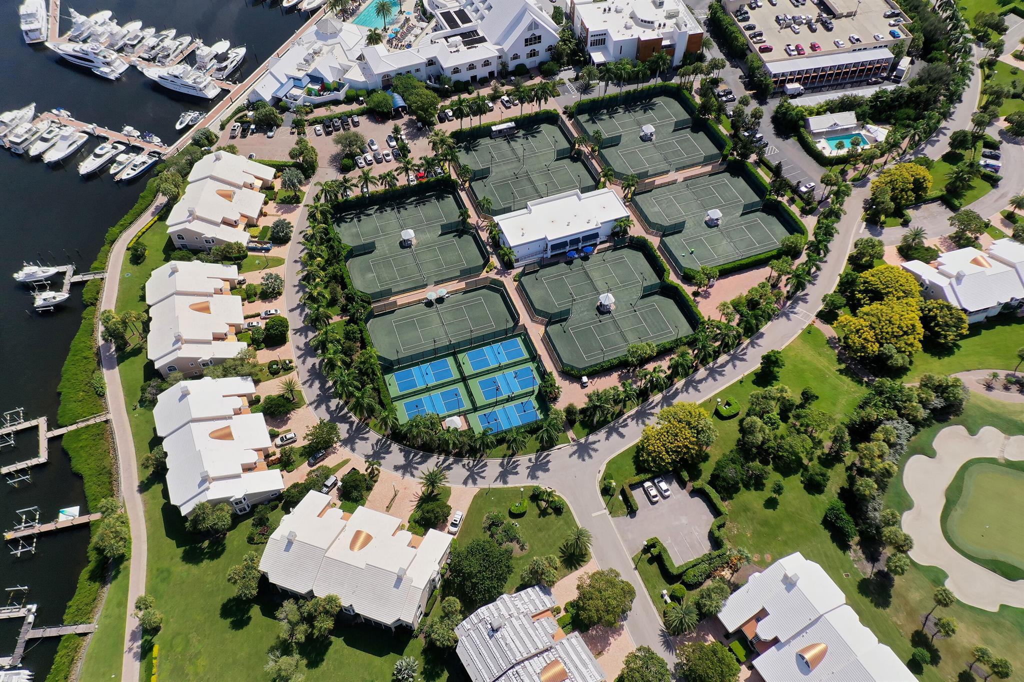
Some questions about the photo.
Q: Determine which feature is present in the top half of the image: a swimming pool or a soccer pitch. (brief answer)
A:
swimming pool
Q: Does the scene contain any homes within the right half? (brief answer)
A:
Yes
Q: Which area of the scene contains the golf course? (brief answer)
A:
bottom right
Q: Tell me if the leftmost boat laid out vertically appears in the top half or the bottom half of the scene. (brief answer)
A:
top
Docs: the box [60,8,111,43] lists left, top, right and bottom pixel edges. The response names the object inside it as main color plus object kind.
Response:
white boat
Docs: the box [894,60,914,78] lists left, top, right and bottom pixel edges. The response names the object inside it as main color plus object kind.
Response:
white vehicle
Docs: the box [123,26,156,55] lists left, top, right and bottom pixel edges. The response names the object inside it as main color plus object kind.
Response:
white boat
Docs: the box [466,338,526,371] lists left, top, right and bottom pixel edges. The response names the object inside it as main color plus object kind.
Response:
blue sports court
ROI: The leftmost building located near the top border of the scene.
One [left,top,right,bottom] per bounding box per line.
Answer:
[258,14,378,105]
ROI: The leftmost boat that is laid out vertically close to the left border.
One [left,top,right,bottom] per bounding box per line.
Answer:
[22,0,46,47]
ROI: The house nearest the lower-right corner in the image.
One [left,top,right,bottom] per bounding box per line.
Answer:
[715,552,920,682]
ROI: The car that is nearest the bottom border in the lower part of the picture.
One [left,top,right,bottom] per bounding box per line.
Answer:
[448,510,464,534]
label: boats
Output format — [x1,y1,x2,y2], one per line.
[138,29,177,62]
[118,126,140,137]
[60,8,111,43]
[0,667,37,682]
[136,63,225,104]
[105,19,143,53]
[47,107,71,117]
[10,266,60,284]
[77,143,134,178]
[93,66,123,82]
[22,0,46,47]
[45,38,136,78]
[31,292,71,310]
[154,33,192,66]
[109,152,141,176]
[189,110,208,125]
[282,0,301,8]
[119,152,160,182]
[27,120,73,159]
[140,133,161,144]
[40,130,97,166]
[0,98,37,154]
[301,0,326,13]
[207,45,247,81]
[8,117,52,159]
[176,108,198,131]
[90,15,123,46]
[189,38,231,75]
[123,26,156,55]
